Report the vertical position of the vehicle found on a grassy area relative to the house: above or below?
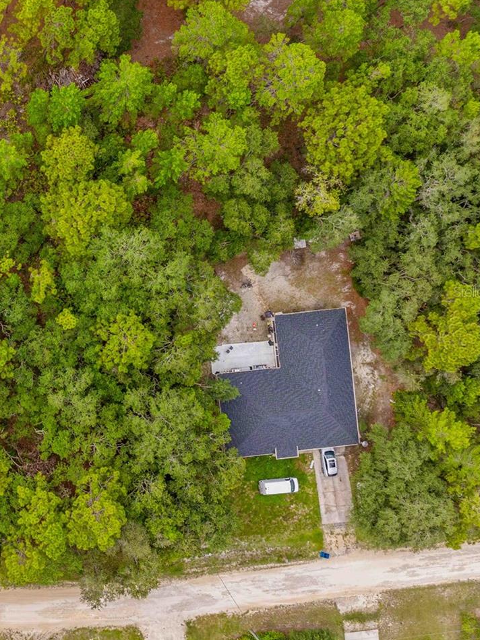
below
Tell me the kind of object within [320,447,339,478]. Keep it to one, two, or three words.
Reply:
car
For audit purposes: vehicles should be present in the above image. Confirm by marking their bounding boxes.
[320,447,339,478]
[255,476,298,496]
